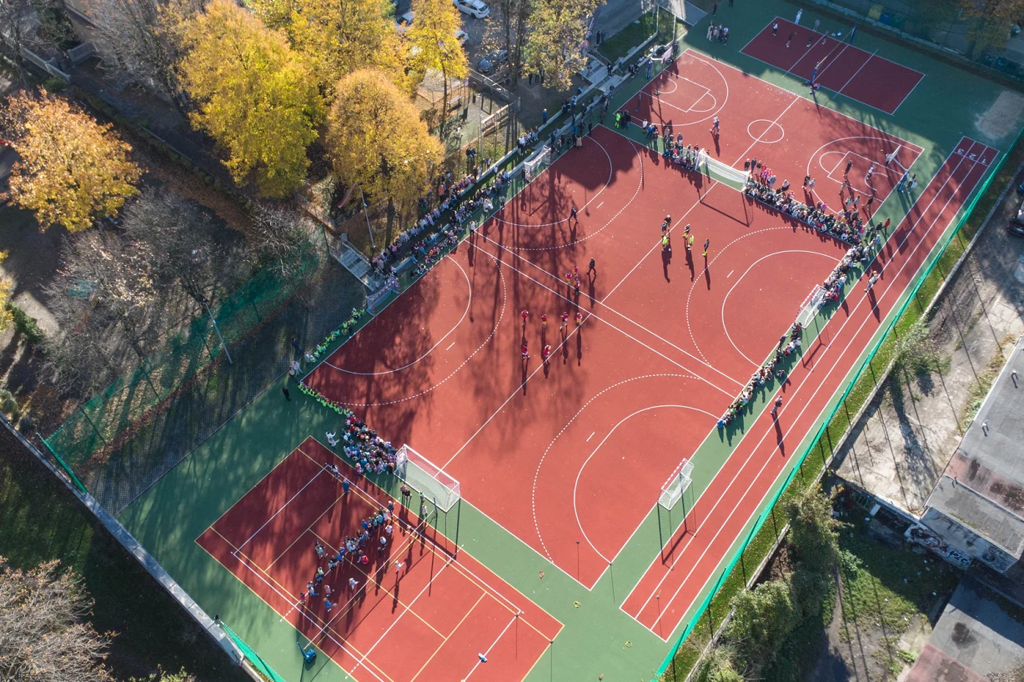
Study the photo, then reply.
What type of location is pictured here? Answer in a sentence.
What you see here is a sports ground.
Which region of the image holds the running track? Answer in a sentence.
The running track is in the right part of the image.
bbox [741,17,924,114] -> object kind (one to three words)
sports court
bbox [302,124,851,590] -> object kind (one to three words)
sports field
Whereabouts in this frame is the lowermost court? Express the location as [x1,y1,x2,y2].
[196,437,563,682]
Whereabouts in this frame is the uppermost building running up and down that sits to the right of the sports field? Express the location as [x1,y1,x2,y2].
[922,323,1024,563]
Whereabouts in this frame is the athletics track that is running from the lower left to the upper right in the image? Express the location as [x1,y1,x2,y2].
[621,137,999,640]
